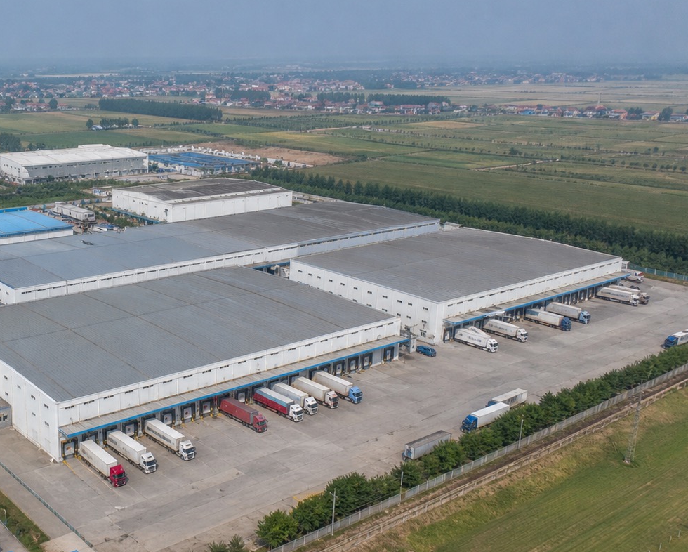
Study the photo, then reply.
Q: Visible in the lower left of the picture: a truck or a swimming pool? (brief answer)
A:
truck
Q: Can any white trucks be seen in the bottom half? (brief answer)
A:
Yes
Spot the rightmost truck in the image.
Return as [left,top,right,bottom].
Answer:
[664,326,688,348]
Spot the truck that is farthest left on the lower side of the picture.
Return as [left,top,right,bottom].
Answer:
[78,440,130,483]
